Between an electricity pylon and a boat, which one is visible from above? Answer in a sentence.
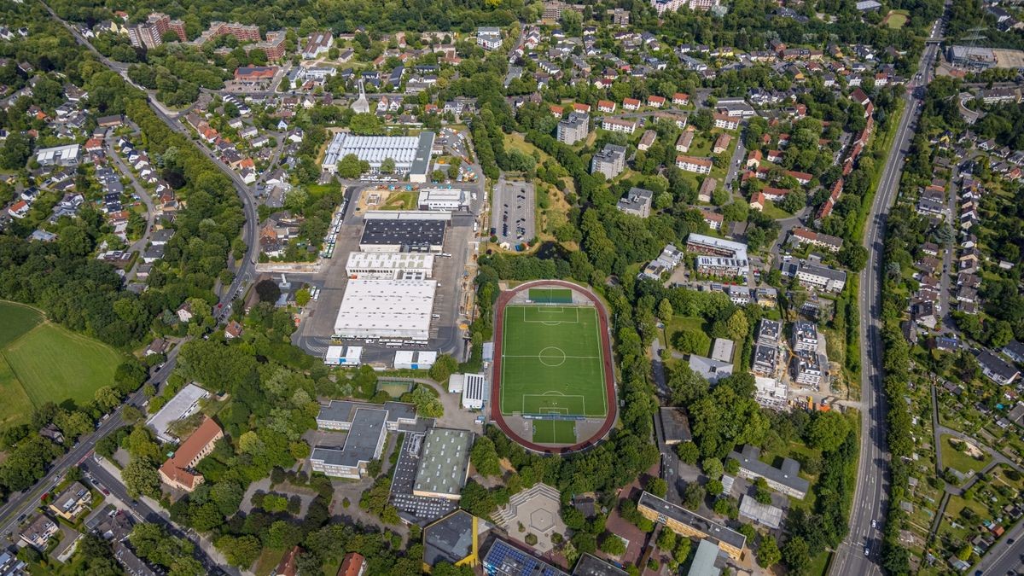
It is an electricity pylon that can be seen here.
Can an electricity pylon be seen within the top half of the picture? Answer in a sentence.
Yes, within the top half of the picture there is an electricity pylon.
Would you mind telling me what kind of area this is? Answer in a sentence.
What you see here is a residential area.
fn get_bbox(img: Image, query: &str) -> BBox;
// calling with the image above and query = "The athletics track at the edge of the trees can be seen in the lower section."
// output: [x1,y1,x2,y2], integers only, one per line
[489,278,619,456]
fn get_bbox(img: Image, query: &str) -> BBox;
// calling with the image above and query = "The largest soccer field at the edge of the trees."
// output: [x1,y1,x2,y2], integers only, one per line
[500,301,608,419]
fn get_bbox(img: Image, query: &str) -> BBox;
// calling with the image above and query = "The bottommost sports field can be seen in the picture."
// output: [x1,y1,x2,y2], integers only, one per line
[533,420,577,443]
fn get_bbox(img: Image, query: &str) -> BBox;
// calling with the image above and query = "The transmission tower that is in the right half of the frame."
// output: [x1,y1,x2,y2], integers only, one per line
[971,13,998,55]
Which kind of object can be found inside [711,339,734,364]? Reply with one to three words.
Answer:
building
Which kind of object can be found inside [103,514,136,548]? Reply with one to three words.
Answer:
house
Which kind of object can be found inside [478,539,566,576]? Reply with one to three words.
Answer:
building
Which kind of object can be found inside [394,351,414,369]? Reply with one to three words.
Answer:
shed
